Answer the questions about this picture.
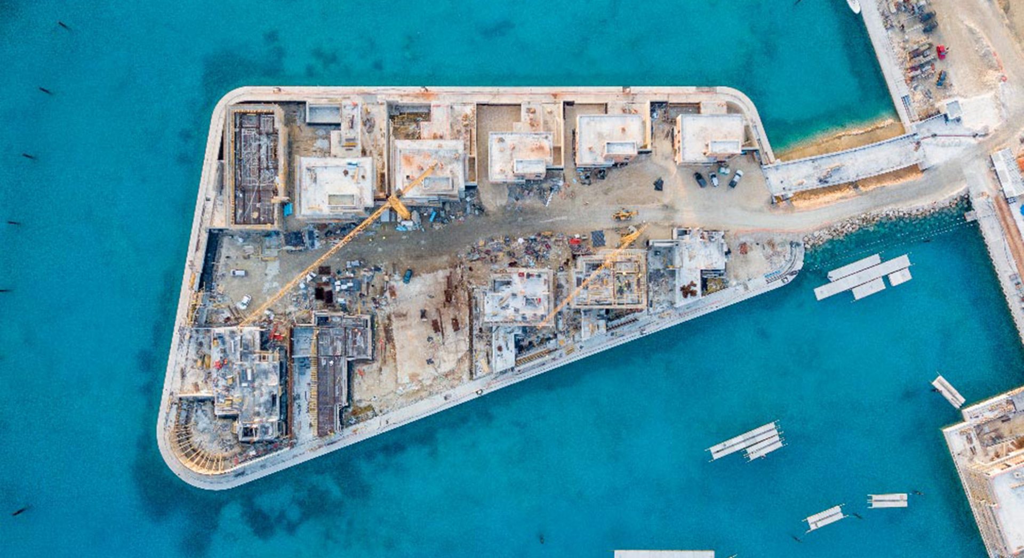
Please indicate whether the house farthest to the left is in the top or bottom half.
top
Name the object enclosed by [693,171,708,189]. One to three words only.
vehicle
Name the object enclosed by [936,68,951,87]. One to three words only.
vehicle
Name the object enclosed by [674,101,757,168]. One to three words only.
house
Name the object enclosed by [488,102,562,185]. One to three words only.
house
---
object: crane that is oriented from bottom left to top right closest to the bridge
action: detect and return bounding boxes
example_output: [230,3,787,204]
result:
[539,222,649,328]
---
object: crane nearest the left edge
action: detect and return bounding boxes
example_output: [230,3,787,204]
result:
[238,161,437,329]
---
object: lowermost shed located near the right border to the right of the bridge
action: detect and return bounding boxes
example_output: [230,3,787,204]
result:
[984,148,1024,199]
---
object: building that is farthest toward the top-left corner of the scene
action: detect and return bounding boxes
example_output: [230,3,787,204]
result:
[295,102,379,220]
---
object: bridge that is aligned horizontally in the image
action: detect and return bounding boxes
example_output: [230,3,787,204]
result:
[762,131,931,208]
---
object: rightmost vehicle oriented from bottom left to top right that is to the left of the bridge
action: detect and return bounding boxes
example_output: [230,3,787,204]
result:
[728,168,744,188]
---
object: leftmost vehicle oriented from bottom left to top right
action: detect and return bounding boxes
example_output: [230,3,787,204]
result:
[237,293,251,310]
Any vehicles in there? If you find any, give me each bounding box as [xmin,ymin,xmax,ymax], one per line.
[693,171,708,189]
[231,269,246,276]
[936,68,951,87]
[403,268,412,284]
[237,293,251,310]
[728,168,744,188]
[922,19,940,32]
[937,42,948,59]
[709,172,718,187]
[920,9,938,22]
